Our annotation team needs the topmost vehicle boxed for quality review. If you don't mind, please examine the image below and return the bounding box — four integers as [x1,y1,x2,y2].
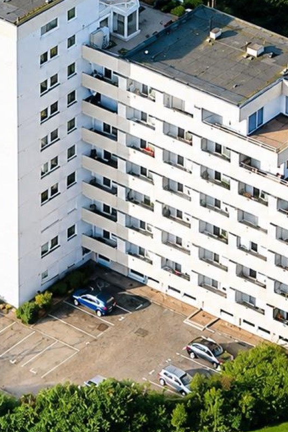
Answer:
[75,288,120,316]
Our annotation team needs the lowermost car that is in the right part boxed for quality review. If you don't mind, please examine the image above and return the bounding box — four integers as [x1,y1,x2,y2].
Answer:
[153,361,198,395]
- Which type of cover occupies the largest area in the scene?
buildings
